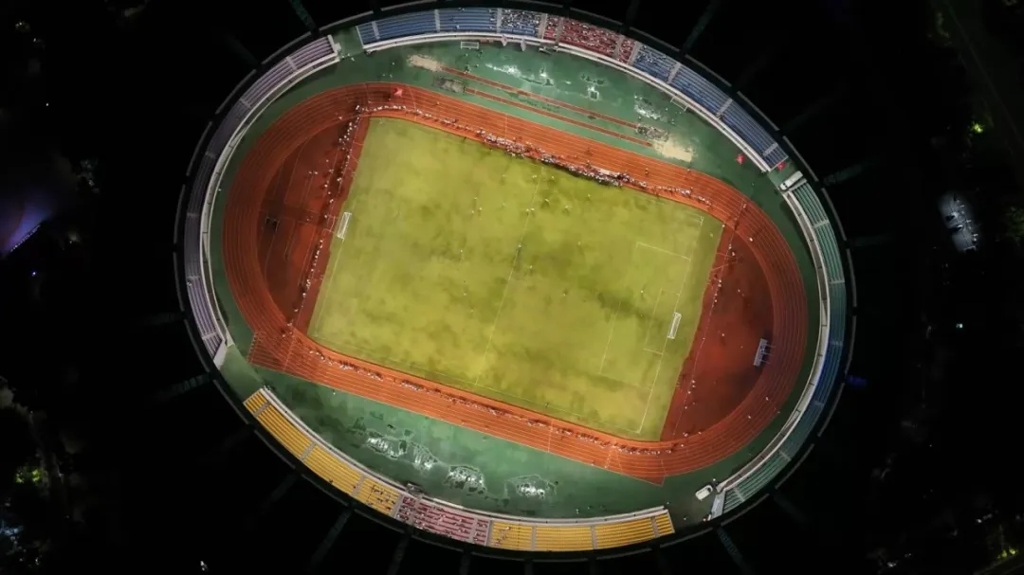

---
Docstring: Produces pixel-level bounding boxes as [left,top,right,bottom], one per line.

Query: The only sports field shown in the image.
[309,116,724,443]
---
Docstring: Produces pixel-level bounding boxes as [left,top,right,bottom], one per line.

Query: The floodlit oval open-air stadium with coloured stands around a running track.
[134,0,896,575]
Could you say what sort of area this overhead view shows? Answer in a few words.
sports ground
